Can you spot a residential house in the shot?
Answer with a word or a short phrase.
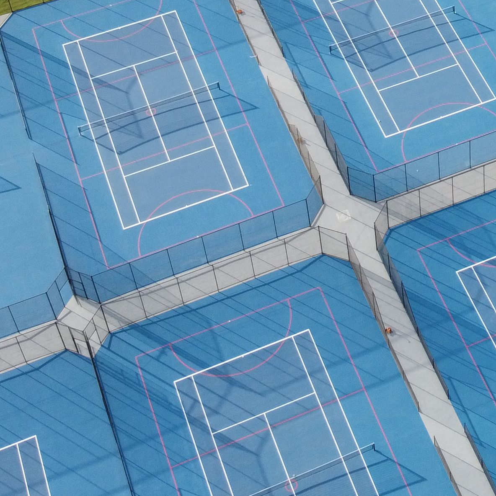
No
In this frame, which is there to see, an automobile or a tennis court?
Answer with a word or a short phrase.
tennis court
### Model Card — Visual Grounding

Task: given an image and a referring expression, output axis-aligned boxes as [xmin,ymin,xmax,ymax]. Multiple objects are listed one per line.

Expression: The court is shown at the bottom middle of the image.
[92,253,457,496]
